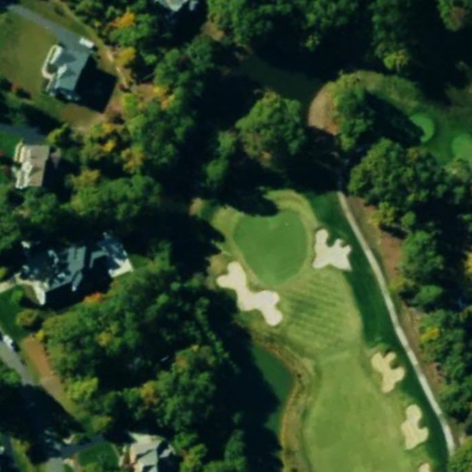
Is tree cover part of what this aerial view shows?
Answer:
Yes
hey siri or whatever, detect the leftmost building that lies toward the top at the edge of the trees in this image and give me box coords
[16,142,52,184]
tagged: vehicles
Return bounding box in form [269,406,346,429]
[4,333,14,344]
[81,38,95,48]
